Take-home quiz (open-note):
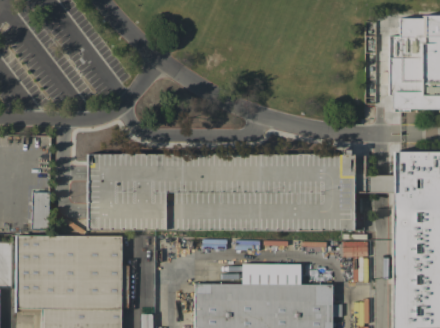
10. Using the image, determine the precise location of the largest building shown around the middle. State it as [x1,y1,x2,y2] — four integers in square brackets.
[86,148,356,232]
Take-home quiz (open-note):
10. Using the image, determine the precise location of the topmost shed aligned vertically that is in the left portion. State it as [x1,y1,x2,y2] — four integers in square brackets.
[32,193,50,232]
